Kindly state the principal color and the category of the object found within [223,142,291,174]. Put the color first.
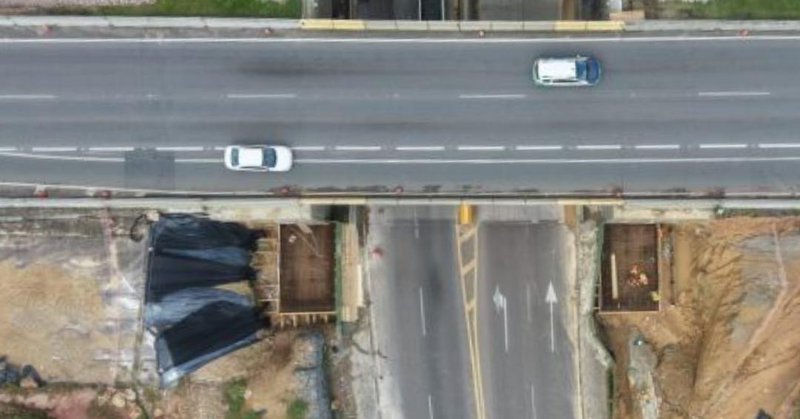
white car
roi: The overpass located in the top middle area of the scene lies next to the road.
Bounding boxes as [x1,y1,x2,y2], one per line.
[296,24,654,205]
